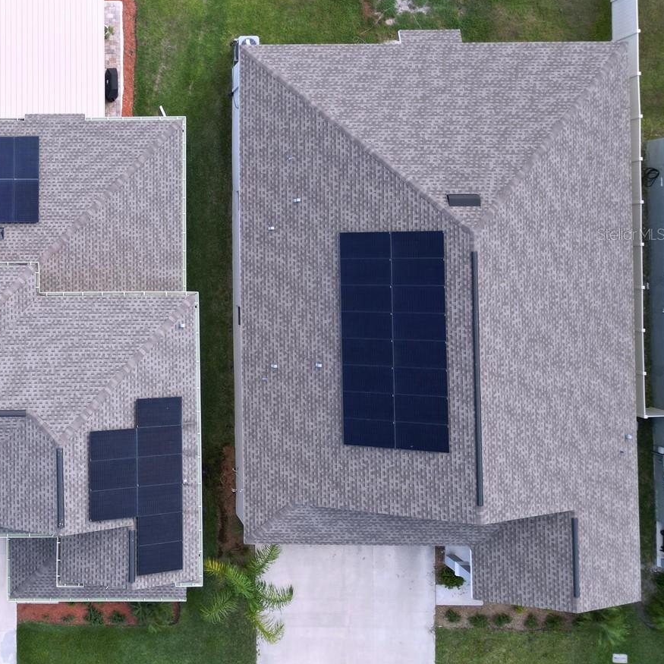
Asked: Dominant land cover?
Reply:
buildings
